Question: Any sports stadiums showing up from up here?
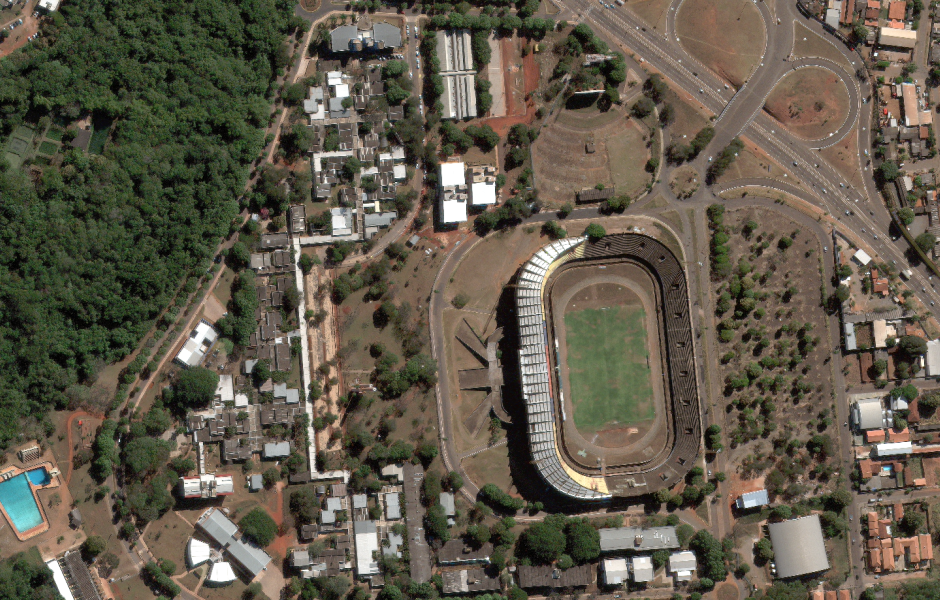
Yes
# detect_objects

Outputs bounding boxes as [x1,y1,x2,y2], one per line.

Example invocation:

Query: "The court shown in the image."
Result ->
[487,39,506,118]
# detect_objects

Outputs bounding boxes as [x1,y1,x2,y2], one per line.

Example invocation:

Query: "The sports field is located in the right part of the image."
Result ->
[551,264,666,467]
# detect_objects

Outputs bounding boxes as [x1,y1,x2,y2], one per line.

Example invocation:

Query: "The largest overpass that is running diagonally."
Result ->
[711,80,768,146]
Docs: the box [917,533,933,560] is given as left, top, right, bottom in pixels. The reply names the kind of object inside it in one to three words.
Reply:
house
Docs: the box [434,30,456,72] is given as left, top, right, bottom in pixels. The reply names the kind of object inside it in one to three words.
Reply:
shed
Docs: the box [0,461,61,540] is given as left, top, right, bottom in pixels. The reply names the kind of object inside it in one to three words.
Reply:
swimming pool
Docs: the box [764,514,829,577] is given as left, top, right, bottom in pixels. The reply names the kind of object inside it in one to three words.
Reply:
building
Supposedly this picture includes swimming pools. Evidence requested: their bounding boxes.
[0,461,61,540]
[881,464,895,475]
